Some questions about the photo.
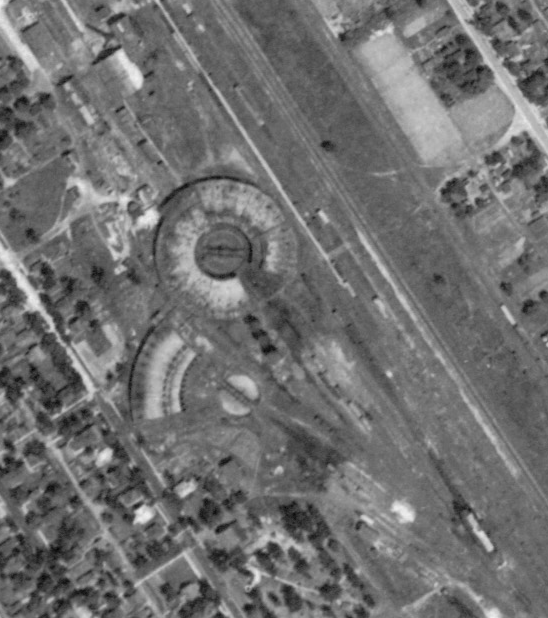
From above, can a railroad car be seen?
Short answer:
Yes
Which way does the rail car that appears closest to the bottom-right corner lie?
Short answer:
on a diagonal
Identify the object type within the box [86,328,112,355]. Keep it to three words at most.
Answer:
building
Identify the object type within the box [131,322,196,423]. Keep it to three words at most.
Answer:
shed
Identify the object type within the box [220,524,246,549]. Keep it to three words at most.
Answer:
barn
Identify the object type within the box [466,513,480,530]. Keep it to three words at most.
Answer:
rail car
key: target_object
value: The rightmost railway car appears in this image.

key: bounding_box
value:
[500,305,517,325]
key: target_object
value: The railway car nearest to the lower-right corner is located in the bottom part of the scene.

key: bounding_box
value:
[476,530,495,552]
